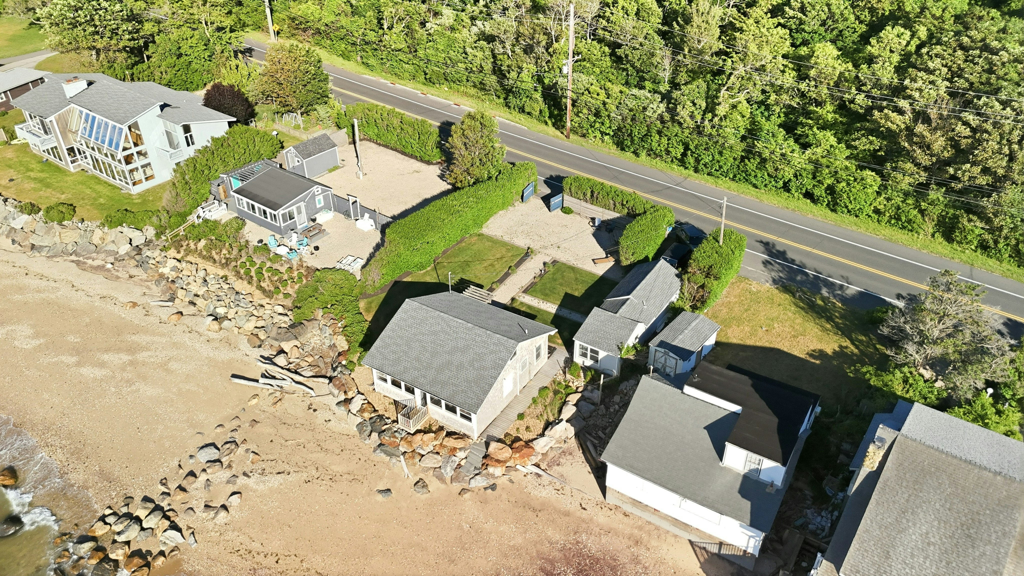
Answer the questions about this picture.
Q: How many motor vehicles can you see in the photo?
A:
2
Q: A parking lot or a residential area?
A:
residential area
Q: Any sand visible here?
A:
Yes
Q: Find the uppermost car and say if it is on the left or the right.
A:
right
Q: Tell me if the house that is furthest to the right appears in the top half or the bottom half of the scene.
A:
bottom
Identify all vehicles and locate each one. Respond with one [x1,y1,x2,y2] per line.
[667,248,698,279]
[680,224,710,250]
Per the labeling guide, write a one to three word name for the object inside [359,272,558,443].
house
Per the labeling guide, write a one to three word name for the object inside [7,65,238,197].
house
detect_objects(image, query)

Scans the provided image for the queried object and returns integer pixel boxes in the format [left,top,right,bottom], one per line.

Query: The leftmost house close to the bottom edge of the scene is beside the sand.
[599,356,823,572]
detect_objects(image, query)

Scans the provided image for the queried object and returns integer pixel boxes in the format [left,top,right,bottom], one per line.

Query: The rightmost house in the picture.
[807,400,1024,576]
